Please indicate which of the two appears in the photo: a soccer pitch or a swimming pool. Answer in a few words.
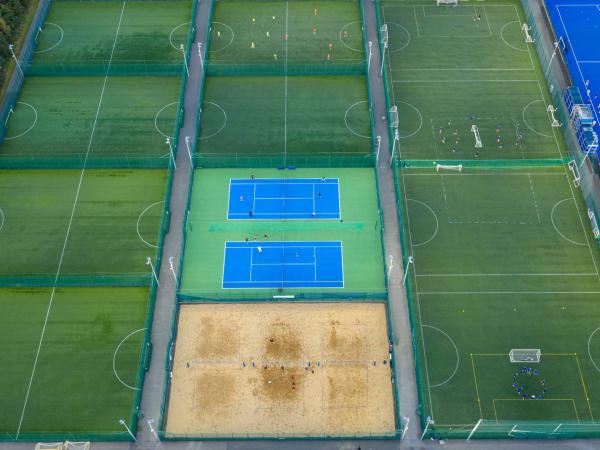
soccer pitch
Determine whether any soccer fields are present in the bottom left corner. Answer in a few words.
Yes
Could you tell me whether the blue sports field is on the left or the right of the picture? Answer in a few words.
right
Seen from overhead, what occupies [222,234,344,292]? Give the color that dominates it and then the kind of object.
blue tennis court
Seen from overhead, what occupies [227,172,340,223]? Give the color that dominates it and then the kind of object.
blue tennis court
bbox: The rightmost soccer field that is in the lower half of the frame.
[398,167,600,437]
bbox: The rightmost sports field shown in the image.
[544,0,600,159]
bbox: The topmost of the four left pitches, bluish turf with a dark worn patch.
[25,2,195,76]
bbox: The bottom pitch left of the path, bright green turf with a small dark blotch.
[0,287,154,435]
